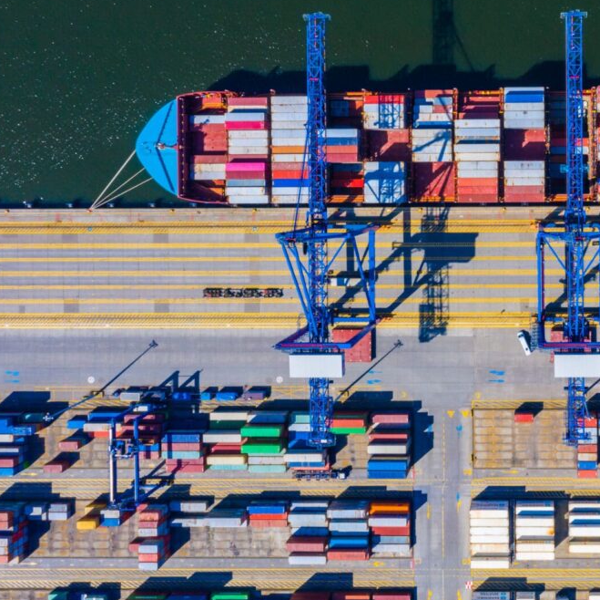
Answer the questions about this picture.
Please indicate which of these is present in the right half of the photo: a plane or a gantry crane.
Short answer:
gantry crane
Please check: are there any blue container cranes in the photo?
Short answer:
Yes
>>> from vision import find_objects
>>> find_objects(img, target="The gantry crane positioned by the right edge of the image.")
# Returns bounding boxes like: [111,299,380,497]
[526,6,600,446]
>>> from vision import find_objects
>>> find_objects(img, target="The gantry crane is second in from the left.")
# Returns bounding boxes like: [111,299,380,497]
[269,6,395,446]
